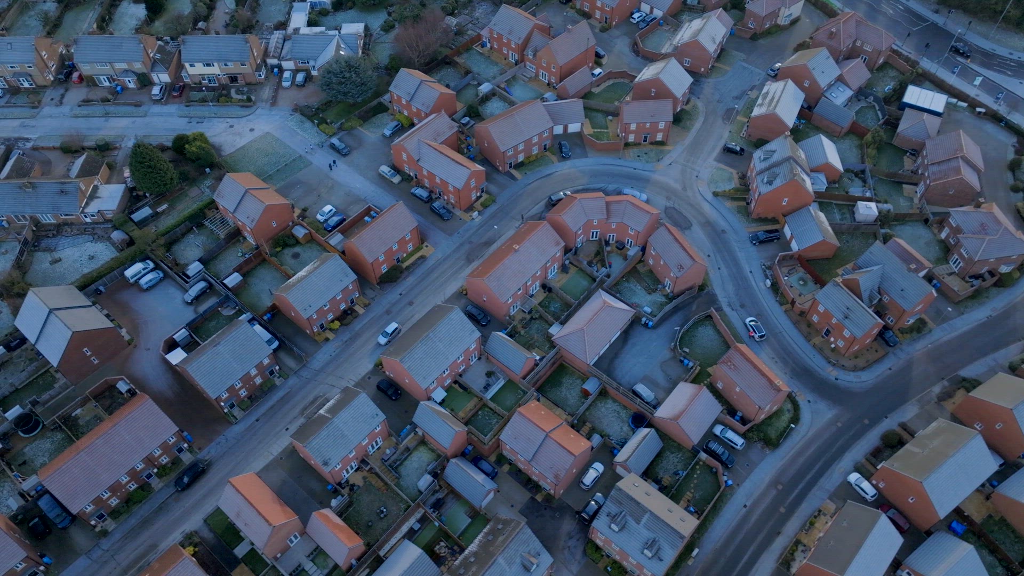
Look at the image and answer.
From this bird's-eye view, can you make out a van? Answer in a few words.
Yes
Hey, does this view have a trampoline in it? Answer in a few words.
Yes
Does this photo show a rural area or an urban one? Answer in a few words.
urban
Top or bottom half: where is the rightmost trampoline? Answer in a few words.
bottom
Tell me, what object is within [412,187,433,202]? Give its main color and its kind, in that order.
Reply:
blue car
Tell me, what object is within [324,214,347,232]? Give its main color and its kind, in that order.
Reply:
blue car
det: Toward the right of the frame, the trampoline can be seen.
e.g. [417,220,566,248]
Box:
[623,402,654,432]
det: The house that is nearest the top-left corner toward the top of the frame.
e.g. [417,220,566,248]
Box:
[0,35,63,87]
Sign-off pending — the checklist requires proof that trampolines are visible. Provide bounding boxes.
[623,402,654,432]
[5,407,42,439]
